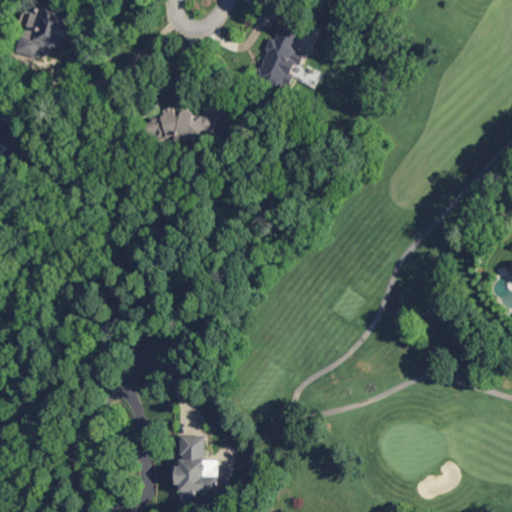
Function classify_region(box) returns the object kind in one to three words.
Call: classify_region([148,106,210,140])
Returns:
house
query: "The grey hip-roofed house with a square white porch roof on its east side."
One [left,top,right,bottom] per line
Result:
[171,436,219,497]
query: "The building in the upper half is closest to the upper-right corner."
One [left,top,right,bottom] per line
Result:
[256,26,321,84]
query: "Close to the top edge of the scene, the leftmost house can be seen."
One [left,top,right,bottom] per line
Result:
[15,6,56,56]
